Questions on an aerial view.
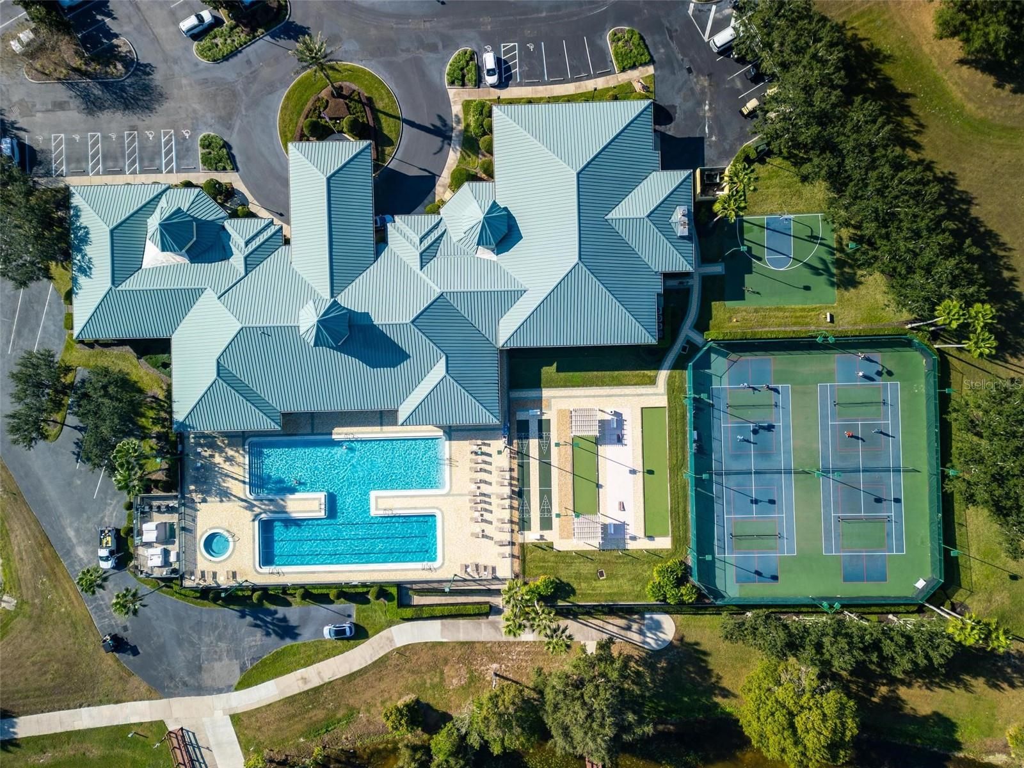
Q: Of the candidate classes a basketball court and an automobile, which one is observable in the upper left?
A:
automobile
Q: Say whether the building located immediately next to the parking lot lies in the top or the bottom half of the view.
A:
top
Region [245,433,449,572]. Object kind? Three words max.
swimming pool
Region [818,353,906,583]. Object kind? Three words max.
tennis court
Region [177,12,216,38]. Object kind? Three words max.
car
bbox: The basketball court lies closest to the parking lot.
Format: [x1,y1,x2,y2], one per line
[724,214,836,307]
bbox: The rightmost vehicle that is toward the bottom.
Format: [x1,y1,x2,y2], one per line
[323,622,355,640]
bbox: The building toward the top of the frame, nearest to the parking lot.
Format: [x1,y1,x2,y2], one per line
[69,99,695,432]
